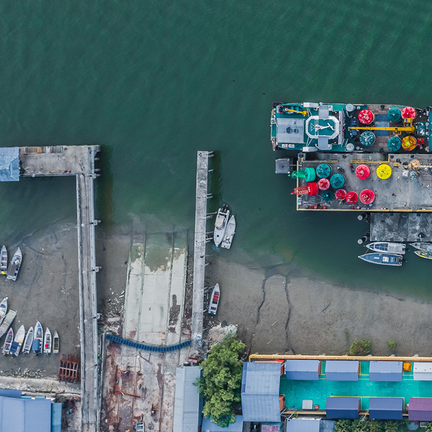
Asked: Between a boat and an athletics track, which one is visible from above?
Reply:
boat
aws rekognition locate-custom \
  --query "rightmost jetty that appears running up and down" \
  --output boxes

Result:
[192,151,216,350]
